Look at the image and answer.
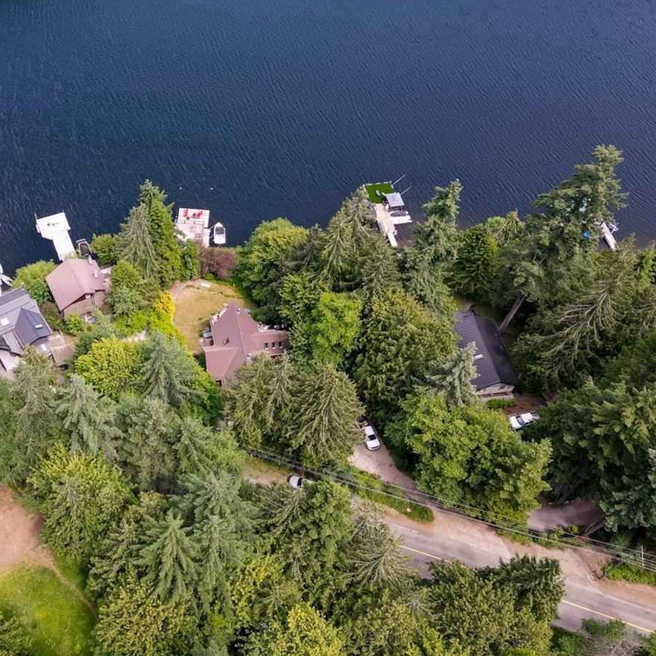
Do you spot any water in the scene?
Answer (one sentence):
Yes, the picture does contain water.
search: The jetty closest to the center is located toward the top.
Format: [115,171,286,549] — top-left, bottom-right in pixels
[364,177,410,246]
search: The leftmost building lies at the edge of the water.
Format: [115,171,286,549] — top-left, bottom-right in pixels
[0,282,59,365]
